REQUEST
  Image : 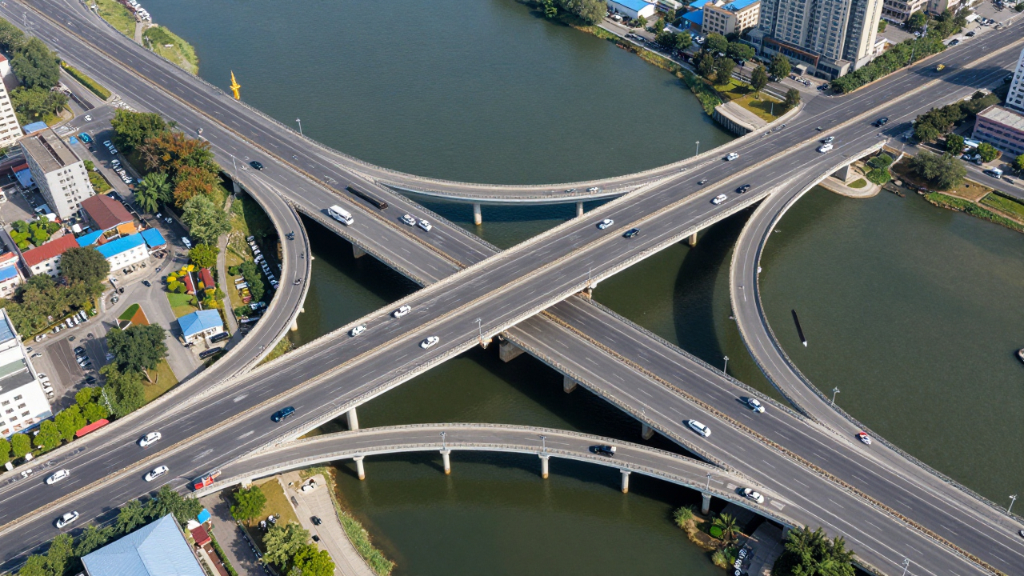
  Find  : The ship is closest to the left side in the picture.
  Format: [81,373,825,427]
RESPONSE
[791,311,806,346]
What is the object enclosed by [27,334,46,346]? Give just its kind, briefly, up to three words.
vehicle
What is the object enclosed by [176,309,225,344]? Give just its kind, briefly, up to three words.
house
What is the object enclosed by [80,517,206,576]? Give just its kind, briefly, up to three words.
building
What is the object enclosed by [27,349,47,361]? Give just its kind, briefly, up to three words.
vehicle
